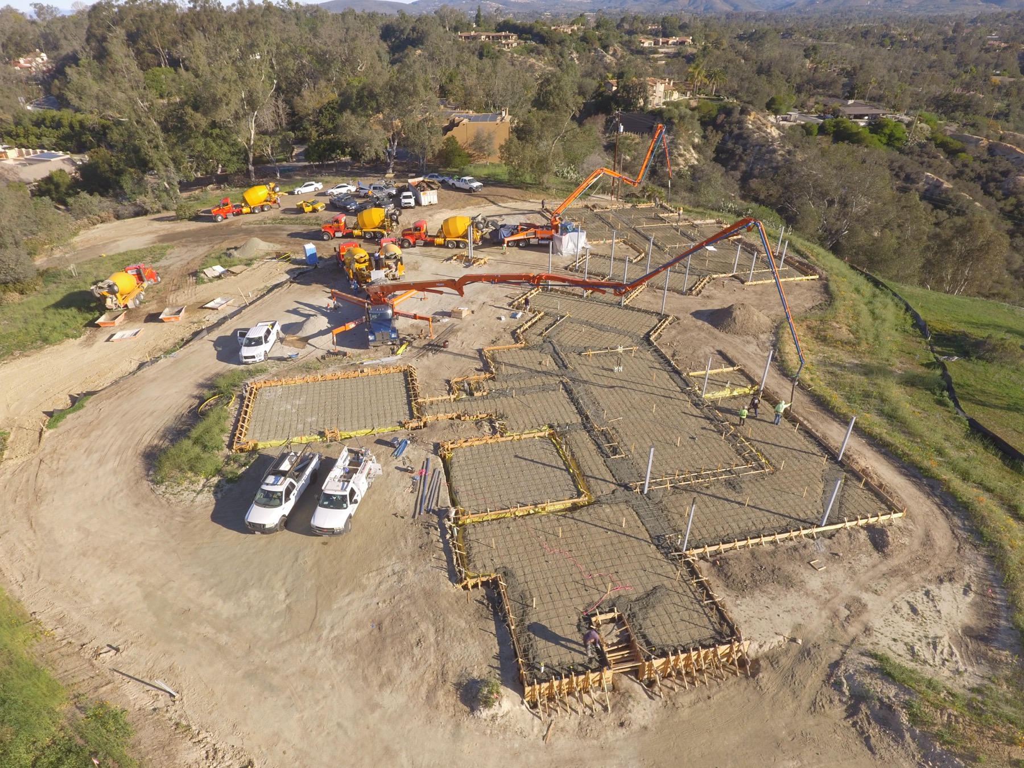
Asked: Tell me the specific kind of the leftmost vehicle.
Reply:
truck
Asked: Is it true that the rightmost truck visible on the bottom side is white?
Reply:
Yes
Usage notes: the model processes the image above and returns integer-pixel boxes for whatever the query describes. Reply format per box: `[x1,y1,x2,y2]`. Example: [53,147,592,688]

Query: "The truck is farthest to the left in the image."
[88,253,164,307]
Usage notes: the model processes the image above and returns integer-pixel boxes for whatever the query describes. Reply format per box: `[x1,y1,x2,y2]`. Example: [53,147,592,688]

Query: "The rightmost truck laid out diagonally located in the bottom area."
[312,432,399,533]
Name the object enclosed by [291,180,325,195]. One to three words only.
car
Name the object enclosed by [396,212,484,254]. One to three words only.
truck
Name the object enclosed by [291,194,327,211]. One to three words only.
vehicle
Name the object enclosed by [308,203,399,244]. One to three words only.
truck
